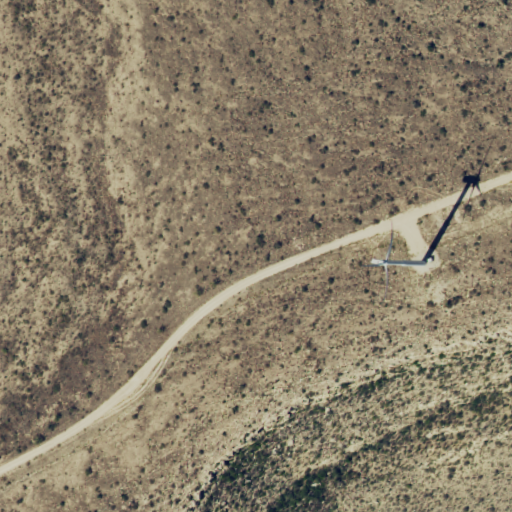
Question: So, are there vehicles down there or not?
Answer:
No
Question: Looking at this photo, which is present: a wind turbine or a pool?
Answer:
wind turbine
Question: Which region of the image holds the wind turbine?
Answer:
right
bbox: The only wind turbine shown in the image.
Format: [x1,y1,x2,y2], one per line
[359,224,430,300]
